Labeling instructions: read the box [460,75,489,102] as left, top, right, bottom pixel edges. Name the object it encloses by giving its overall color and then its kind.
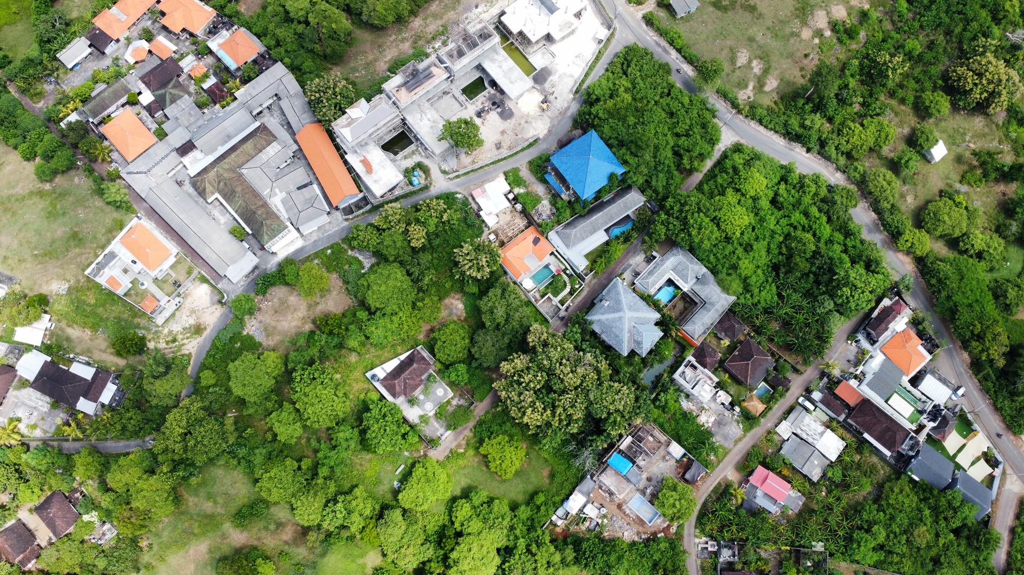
green swimming pool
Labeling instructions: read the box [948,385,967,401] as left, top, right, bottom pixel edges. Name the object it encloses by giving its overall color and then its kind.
white car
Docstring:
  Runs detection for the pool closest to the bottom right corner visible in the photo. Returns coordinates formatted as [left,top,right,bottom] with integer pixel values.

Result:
[895,384,919,407]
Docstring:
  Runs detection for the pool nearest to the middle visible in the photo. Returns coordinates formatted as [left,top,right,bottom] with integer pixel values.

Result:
[529,261,556,288]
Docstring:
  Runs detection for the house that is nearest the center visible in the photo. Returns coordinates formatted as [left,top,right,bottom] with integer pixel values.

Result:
[501,225,556,280]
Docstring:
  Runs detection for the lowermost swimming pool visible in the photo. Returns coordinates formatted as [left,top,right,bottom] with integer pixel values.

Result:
[626,492,660,525]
